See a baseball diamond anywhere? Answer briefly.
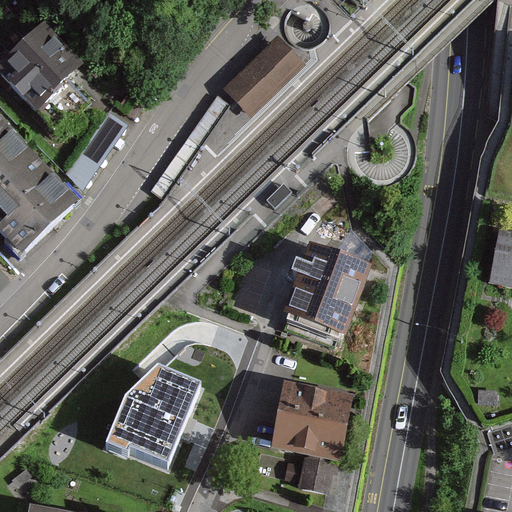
No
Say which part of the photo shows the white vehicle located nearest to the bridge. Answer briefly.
center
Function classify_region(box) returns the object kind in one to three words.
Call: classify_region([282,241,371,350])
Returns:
house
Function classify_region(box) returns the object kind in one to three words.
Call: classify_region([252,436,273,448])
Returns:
vehicle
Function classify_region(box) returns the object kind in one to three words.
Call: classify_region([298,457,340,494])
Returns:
building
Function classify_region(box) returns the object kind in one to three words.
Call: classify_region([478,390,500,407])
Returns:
shed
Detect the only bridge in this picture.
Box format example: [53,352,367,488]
[360,0,494,129]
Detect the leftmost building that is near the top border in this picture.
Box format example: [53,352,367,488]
[0,22,84,112]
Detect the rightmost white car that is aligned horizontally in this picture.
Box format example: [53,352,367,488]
[275,356,298,369]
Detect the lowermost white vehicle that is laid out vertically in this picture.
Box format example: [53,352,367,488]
[396,406,408,430]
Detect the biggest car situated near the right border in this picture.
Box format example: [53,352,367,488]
[484,498,508,510]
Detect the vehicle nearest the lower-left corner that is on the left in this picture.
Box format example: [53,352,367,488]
[48,276,65,294]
